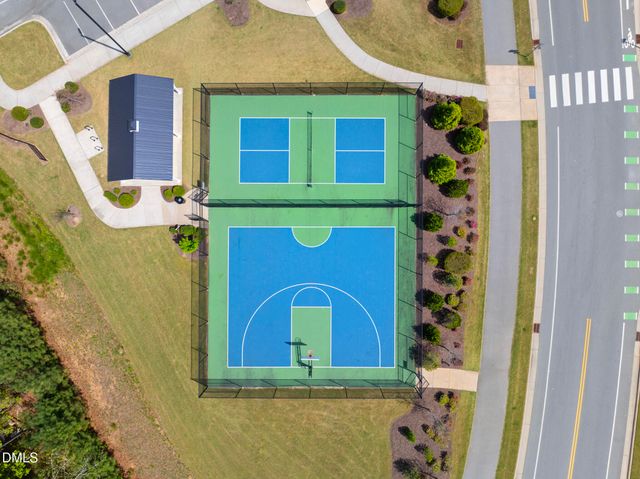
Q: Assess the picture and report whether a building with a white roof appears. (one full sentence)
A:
No, there appears to be no building with a white roof in this shot.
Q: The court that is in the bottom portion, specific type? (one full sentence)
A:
In the photo, the court that is in the bottom portion shows up as a basketball court.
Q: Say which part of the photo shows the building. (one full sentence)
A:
The building sits in the top left section of the image.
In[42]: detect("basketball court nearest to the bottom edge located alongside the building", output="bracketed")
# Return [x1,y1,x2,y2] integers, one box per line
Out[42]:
[208,208,416,388]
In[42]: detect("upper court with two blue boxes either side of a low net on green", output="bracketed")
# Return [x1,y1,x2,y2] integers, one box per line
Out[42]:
[208,95,416,208]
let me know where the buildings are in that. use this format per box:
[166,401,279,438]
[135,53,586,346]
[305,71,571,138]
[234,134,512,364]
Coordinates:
[107,73,183,186]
